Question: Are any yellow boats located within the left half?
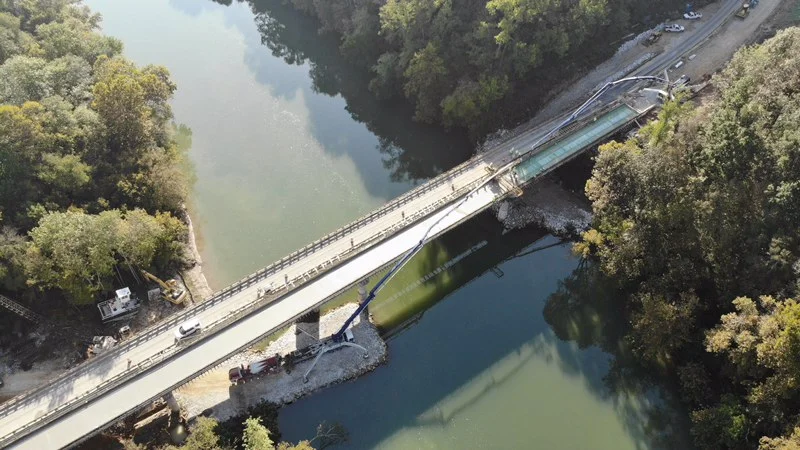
No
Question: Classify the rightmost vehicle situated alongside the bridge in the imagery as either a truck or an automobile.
truck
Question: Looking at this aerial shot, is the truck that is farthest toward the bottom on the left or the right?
left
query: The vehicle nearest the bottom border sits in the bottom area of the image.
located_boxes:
[228,349,285,381]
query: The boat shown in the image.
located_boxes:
[98,287,146,321]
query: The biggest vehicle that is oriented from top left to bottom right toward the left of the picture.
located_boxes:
[141,273,191,306]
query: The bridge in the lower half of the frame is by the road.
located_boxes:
[0,128,552,450]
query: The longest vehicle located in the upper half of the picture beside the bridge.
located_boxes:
[525,69,695,169]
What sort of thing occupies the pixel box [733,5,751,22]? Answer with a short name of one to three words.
work vehicle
